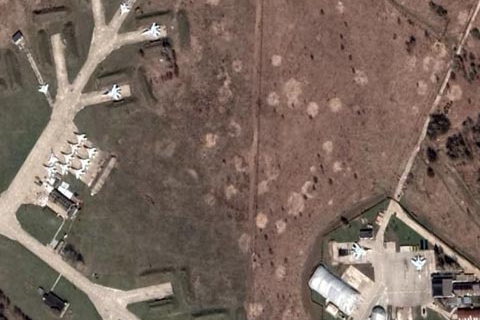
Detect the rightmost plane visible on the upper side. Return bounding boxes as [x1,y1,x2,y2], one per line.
[141,24,162,37]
